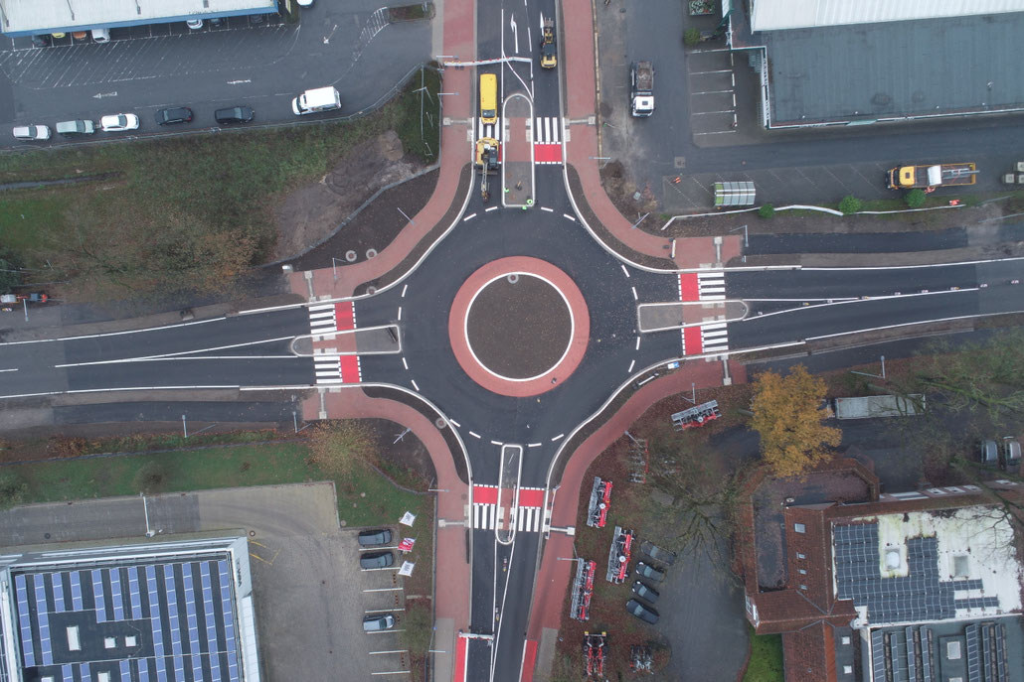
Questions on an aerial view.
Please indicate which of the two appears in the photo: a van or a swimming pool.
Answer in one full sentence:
I can see a van in this picture.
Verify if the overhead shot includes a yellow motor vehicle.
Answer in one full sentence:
Yes, you can see a yellow motor vehicle in this photo.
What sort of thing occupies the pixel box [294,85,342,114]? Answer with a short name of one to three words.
van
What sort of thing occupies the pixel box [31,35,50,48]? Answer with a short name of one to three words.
vehicle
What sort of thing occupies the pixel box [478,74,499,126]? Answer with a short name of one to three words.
vehicle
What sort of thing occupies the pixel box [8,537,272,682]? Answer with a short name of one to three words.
building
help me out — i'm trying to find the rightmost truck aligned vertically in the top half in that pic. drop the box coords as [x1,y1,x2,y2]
[630,62,656,120]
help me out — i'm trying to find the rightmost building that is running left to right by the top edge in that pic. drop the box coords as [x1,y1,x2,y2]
[724,0,1024,137]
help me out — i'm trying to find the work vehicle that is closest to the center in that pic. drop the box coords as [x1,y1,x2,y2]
[477,138,498,199]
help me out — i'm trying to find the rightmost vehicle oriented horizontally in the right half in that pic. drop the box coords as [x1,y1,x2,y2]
[881,163,979,190]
